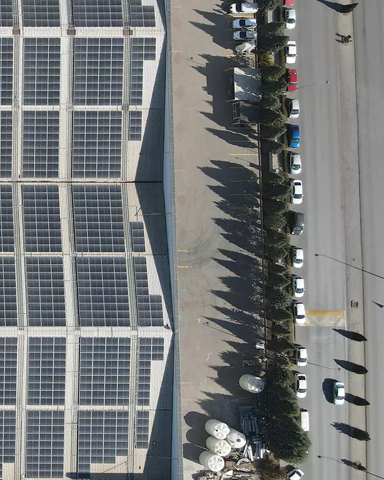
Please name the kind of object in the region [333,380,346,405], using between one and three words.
vehicle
